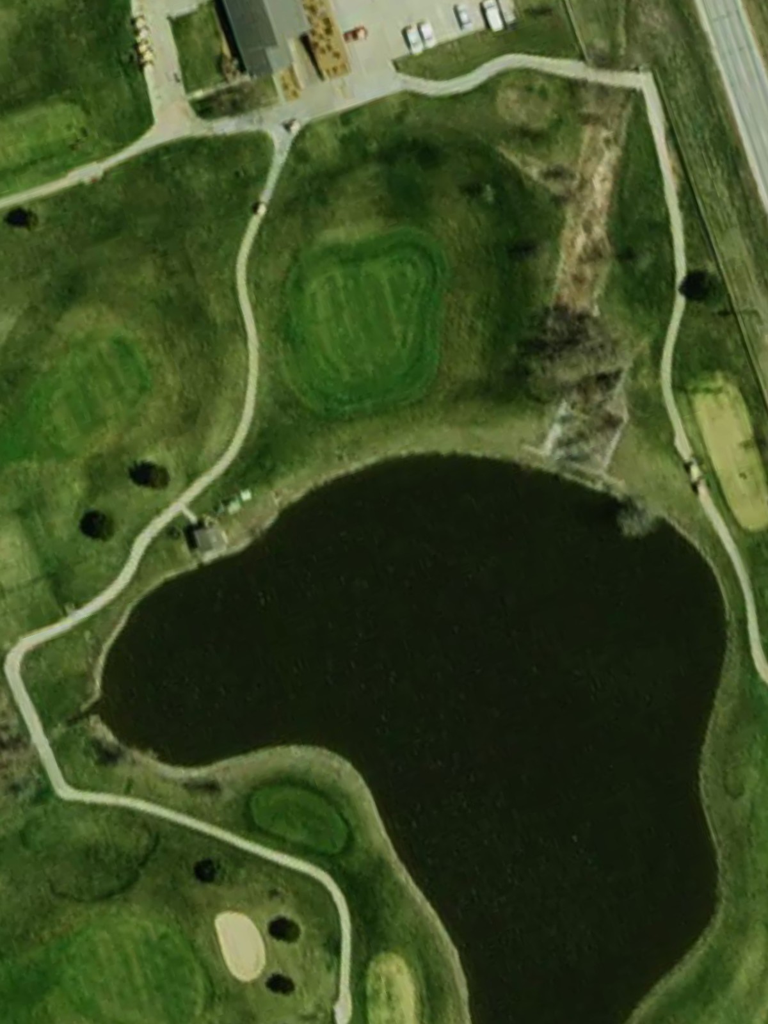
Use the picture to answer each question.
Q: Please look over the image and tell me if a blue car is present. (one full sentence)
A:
No, the frame has no blue car in it.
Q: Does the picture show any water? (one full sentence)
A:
Yes, water shows up in the scene.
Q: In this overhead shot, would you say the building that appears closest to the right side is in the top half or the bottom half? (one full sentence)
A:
It is in the top half that the building that appears closest to the right side appears.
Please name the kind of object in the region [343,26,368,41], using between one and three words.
vehicle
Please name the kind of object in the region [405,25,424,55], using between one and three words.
car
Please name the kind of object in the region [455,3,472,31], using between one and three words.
car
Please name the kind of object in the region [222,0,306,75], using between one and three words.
building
